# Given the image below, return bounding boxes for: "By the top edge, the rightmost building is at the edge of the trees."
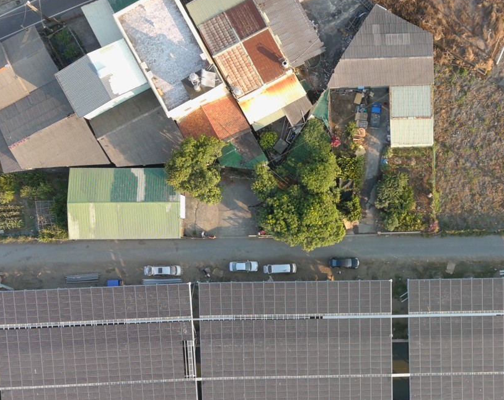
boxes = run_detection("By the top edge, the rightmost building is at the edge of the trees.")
[327,5,434,93]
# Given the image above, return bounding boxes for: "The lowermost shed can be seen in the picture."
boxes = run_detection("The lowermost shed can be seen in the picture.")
[67,168,191,239]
